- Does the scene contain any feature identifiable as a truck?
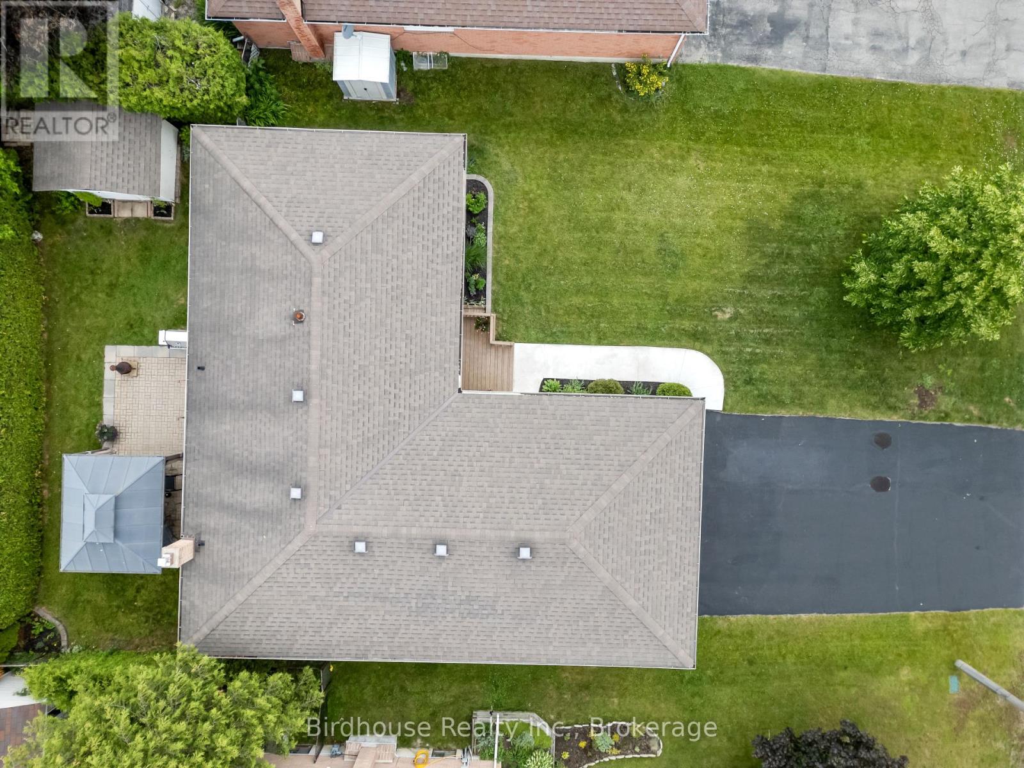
No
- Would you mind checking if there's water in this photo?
No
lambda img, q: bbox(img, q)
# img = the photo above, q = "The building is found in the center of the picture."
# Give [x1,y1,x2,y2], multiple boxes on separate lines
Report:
[158,125,705,669]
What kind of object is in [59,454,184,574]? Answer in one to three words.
gazebo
